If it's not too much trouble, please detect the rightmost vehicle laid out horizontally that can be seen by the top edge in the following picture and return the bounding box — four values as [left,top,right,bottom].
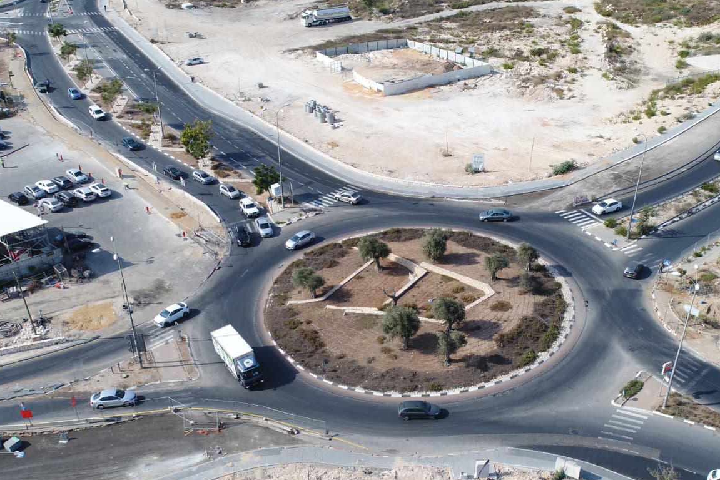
[304,7,354,27]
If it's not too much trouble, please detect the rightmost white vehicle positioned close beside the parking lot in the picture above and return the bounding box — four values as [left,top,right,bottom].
[211,317,263,386]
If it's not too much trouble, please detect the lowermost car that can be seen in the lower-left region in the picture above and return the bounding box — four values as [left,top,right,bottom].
[89,388,137,410]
